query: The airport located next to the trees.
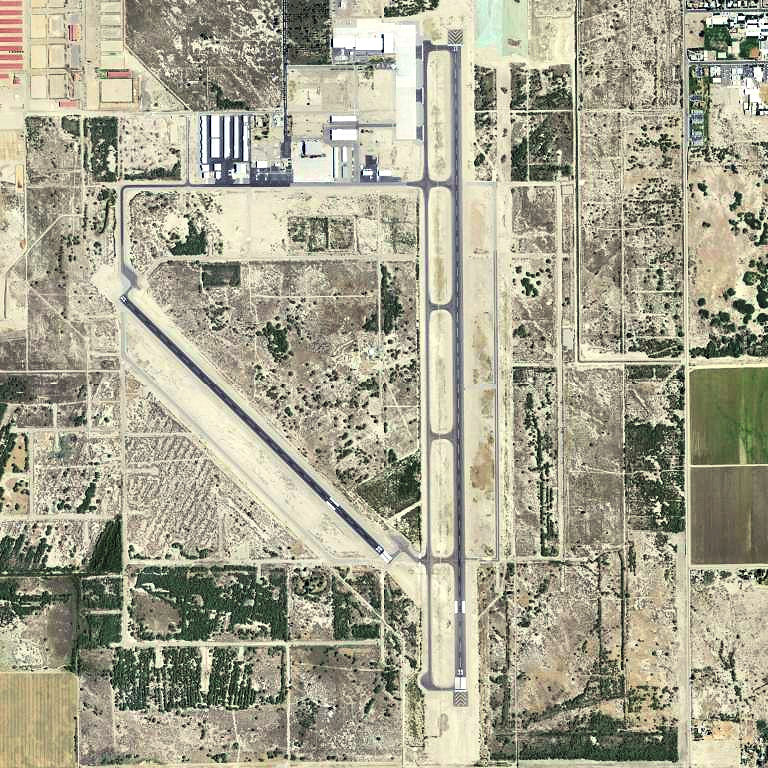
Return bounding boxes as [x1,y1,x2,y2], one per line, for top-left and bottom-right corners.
[118,19,468,706]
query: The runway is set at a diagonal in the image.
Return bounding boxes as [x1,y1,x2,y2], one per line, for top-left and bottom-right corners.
[118,292,393,564]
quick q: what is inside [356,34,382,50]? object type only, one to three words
hangar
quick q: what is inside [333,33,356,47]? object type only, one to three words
hangar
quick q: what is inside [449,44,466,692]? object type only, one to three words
runway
